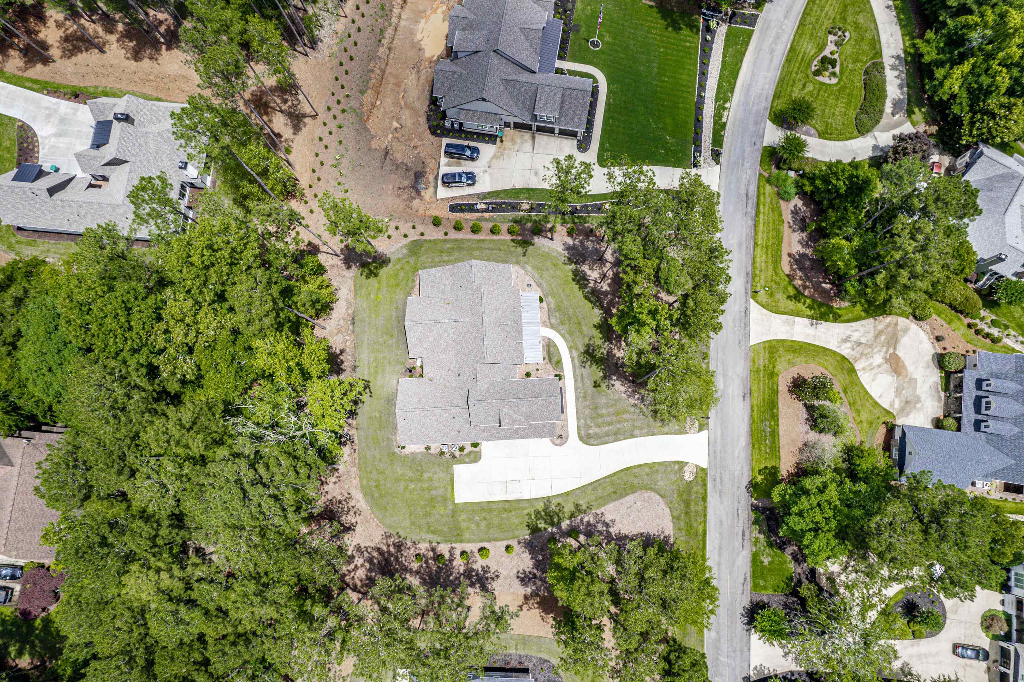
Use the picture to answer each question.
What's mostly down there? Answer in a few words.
trees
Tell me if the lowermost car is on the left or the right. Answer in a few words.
right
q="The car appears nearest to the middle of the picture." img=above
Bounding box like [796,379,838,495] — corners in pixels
[443,171,475,188]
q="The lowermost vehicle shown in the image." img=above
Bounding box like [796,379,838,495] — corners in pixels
[954,642,990,665]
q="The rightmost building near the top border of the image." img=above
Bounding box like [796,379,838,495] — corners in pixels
[433,0,593,138]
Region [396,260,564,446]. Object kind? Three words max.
house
